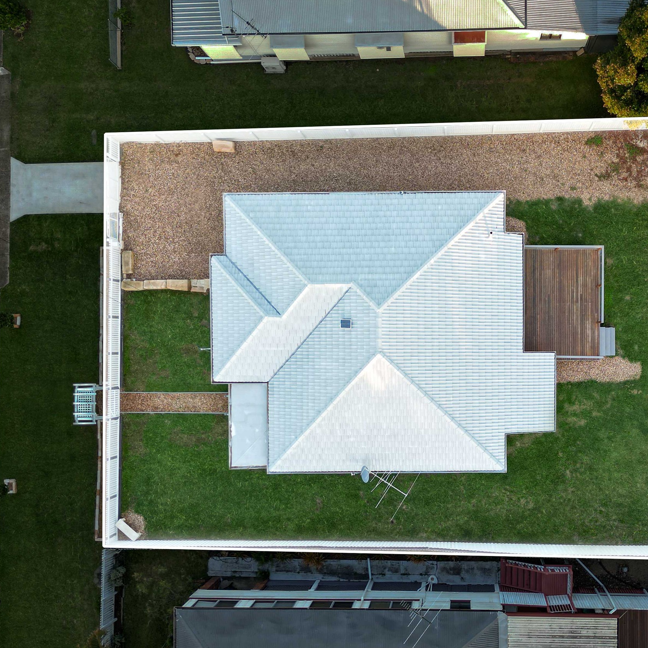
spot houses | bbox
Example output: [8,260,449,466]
[171,0,648,64]
[173,558,507,648]
[208,190,558,475]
